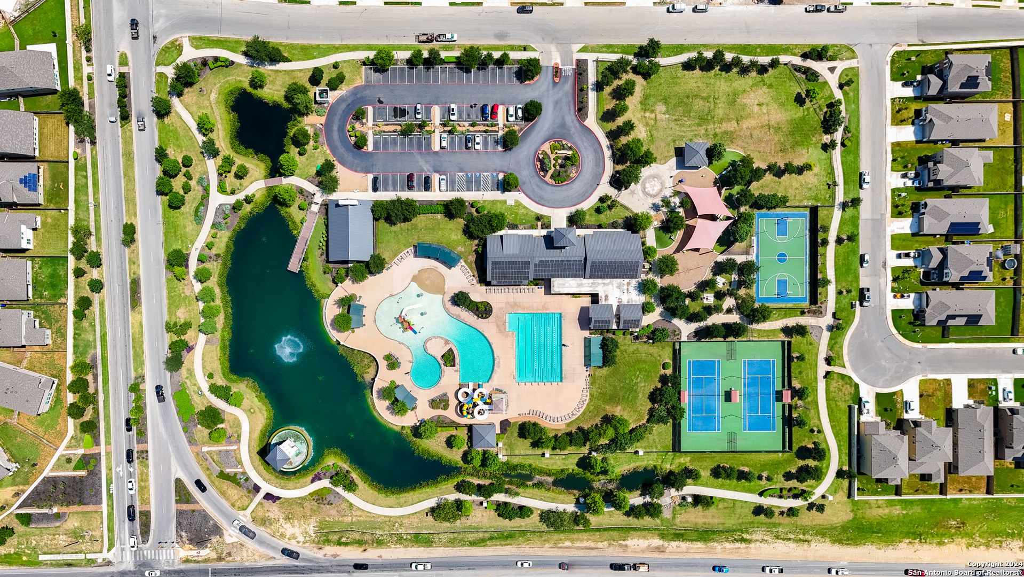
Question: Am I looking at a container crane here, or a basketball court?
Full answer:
The image shows a basketball court.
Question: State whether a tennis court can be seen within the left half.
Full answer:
No, looking within the left half, there is no tennis court.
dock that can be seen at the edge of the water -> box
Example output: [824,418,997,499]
[287,209,318,273]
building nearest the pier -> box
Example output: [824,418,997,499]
[328,197,376,262]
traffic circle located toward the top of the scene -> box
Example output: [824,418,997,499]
[535,139,581,185]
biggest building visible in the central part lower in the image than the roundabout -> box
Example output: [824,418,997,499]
[486,228,645,329]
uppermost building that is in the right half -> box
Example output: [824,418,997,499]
[922,55,991,97]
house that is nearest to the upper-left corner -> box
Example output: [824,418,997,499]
[0,51,62,94]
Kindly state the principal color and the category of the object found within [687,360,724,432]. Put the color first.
blue tennis court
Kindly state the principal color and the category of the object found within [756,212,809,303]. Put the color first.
green basketball court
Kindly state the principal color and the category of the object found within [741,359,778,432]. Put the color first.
blue tennis court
